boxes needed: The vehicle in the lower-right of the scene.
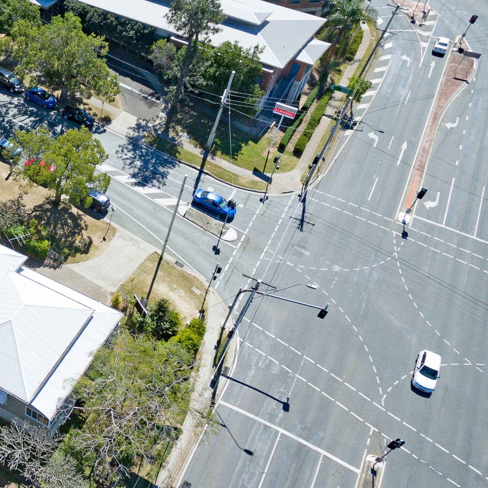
[409,349,445,397]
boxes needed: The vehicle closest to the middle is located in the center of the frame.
[192,190,236,219]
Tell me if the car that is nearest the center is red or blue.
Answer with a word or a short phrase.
blue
